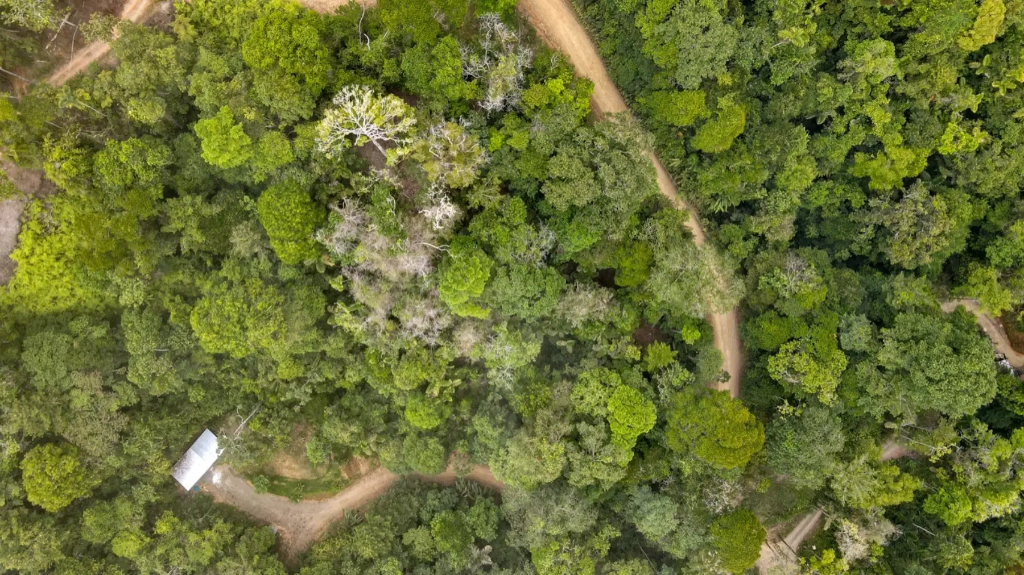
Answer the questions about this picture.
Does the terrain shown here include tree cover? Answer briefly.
Yes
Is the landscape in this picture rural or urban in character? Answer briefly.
rural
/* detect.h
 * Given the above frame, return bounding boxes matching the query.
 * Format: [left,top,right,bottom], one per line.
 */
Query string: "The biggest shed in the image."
[169,429,225,490]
